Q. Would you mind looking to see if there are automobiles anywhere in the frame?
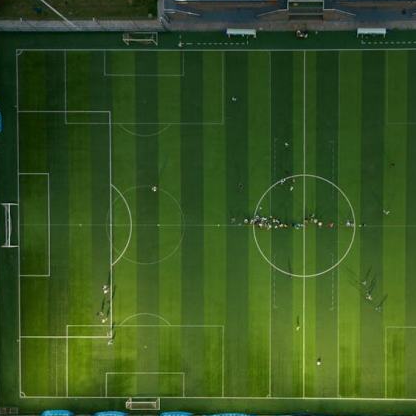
No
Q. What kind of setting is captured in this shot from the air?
sports ground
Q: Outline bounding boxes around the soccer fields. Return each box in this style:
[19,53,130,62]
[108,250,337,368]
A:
[0,29,416,416]
[20,49,281,398]
[327,49,416,399]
